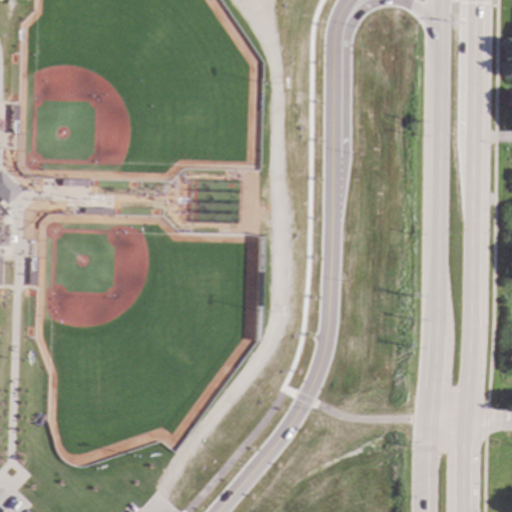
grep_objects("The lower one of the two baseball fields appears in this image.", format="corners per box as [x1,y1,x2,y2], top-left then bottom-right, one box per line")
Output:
[38,212,262,467]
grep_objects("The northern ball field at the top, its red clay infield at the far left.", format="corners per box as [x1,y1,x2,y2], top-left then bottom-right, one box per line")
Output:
[17,0,263,182]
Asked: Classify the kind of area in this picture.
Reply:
sports ground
